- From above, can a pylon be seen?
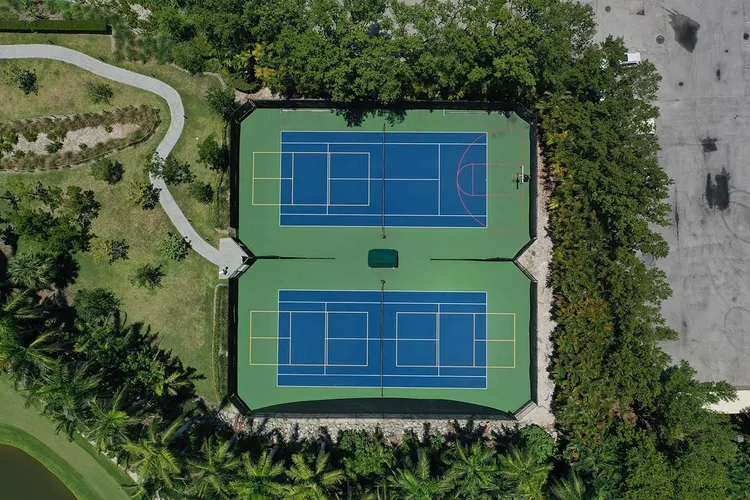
No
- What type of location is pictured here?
sports ground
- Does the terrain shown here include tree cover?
Yes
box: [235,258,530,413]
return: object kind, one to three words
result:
tennis court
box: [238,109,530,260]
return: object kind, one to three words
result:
tennis court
